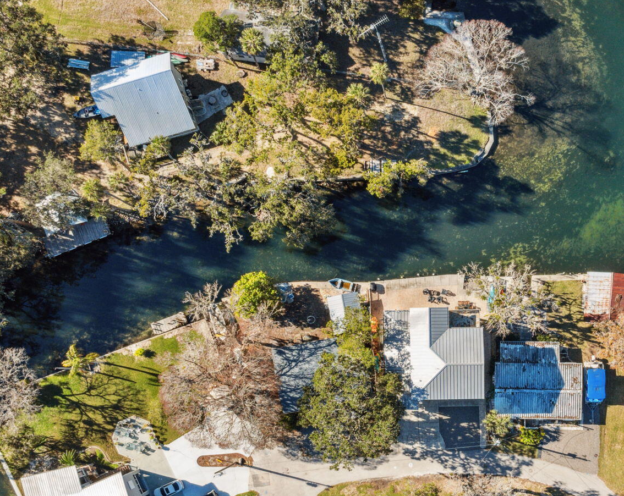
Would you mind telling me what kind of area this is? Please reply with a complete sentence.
This looks like a residential area.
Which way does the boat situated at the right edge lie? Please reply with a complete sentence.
Seen from above, the boat situated at the right edge lies vertically.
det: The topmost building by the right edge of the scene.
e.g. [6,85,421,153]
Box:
[583,272,624,320]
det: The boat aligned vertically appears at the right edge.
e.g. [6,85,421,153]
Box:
[584,361,604,407]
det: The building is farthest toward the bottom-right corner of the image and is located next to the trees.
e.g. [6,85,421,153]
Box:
[494,341,582,419]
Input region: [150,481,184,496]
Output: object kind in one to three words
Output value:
car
